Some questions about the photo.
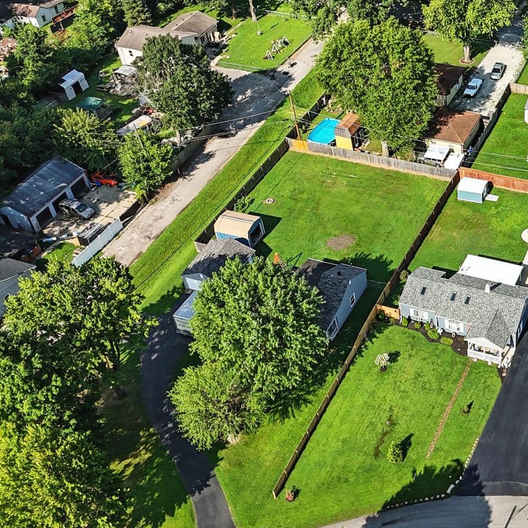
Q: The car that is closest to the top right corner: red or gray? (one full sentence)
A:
From above, the car that is closest to the top right corner appears gray.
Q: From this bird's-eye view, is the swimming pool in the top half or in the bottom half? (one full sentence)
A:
The swimming pool sits in the top half of the picture.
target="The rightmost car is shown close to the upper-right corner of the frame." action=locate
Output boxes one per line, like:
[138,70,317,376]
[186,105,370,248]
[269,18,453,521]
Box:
[486,60,508,80]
